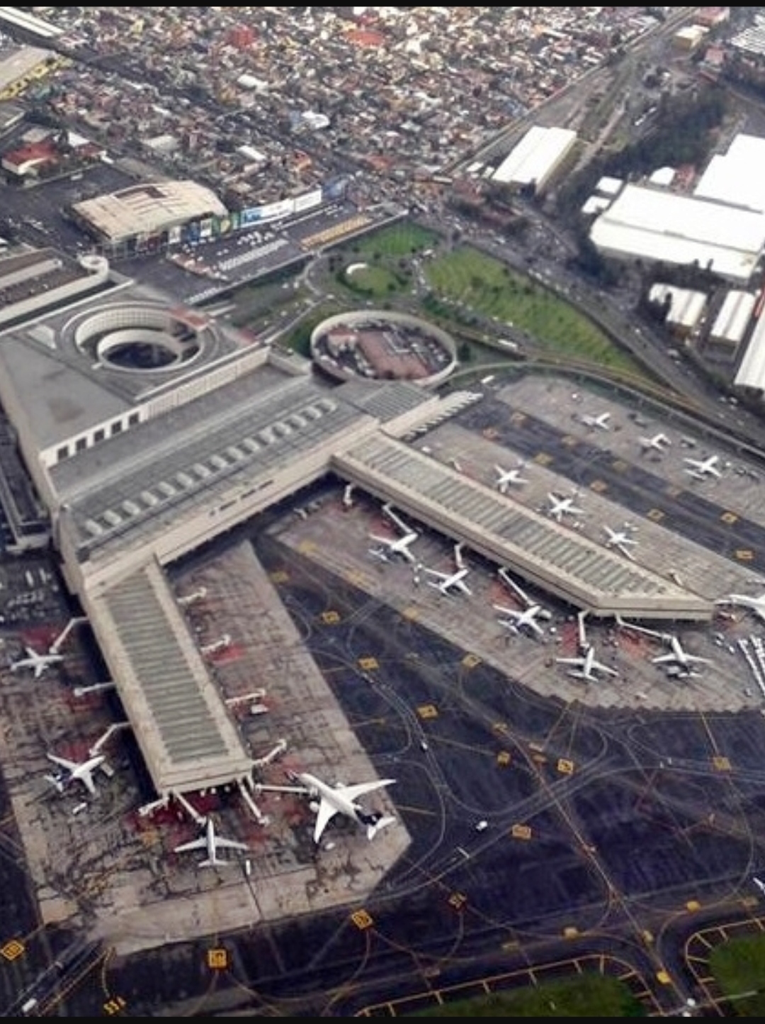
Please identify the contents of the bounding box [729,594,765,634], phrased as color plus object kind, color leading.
white airplane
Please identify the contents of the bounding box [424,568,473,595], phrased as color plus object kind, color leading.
white airplane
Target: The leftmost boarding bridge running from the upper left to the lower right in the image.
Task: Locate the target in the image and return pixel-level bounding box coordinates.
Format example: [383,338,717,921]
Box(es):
[172,786,209,827]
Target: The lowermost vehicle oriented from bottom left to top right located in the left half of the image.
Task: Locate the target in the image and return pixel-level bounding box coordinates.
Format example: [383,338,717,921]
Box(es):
[18,991,39,1013]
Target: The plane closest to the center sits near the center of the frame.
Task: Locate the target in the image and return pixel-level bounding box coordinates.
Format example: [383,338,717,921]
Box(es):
[369,536,417,561]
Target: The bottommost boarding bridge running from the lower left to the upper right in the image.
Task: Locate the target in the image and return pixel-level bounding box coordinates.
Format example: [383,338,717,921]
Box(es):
[137,787,172,821]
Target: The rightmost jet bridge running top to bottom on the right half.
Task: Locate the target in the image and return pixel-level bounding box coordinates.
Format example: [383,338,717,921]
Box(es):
[577,608,590,652]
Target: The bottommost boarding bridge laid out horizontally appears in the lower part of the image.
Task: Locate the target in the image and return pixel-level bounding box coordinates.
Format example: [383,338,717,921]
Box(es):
[244,771,314,801]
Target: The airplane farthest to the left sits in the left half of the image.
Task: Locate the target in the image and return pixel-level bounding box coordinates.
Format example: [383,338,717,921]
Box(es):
[9,653,64,679]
